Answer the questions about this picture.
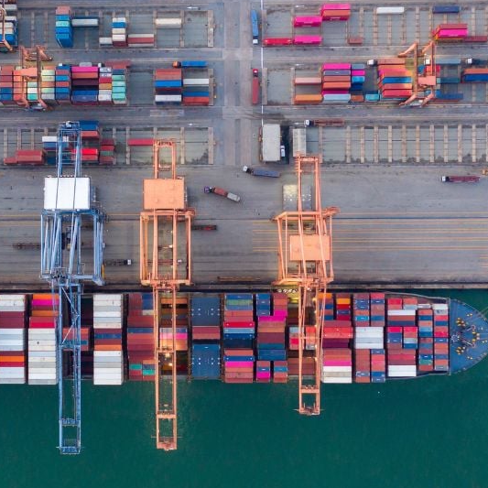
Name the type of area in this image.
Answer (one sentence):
The area seen from above is a port.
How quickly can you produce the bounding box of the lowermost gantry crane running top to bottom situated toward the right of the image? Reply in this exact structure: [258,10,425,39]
[262,152,347,415]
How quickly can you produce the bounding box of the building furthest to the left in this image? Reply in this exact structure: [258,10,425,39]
[258,124,280,162]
